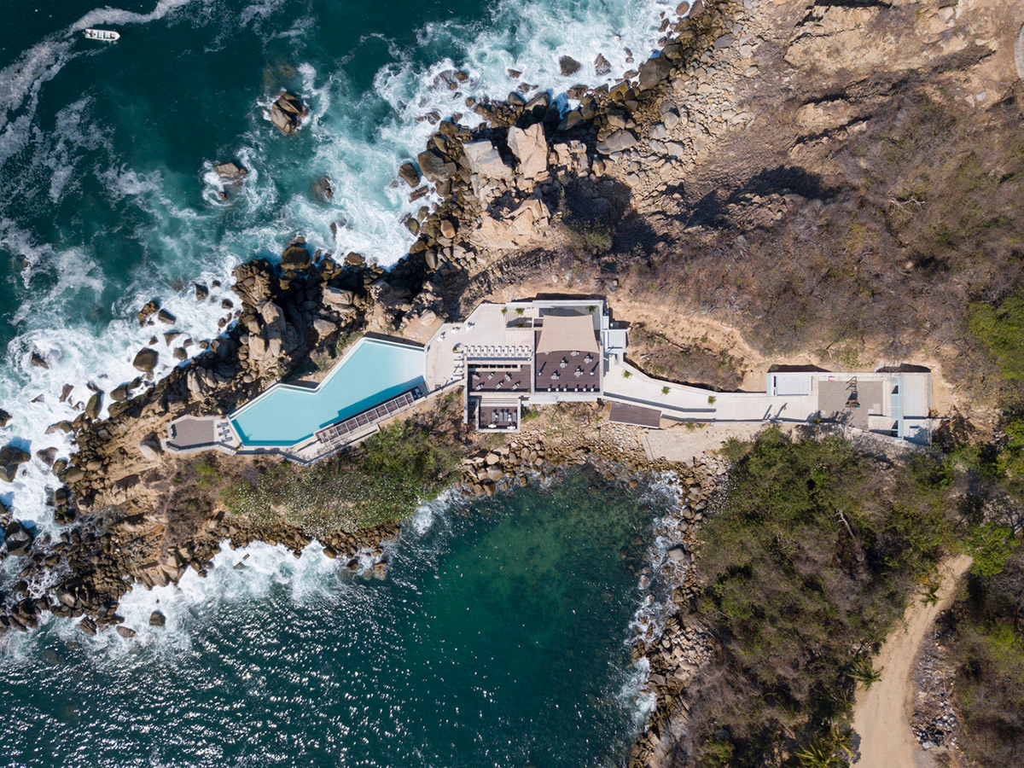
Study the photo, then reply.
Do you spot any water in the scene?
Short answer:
Yes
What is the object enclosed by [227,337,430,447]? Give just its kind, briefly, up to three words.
swimming pool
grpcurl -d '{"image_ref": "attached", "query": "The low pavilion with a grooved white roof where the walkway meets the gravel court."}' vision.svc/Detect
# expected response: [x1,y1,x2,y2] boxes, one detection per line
[766,373,813,396]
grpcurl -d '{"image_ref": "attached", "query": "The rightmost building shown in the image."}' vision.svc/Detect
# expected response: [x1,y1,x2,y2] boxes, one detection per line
[889,373,931,449]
